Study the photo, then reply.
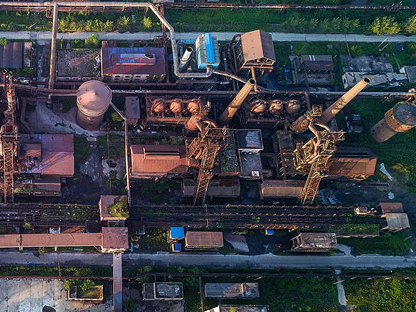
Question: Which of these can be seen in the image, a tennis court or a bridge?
bridge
